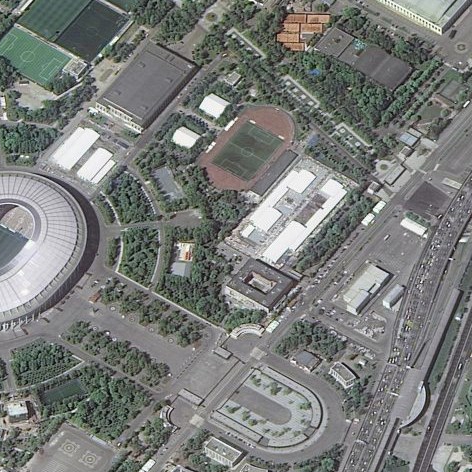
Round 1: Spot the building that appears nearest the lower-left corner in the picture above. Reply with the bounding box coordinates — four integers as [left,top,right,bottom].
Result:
[8,402,27,422]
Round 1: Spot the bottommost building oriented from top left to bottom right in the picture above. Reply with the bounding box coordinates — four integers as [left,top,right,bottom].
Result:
[206,437,243,466]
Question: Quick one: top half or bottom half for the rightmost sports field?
top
